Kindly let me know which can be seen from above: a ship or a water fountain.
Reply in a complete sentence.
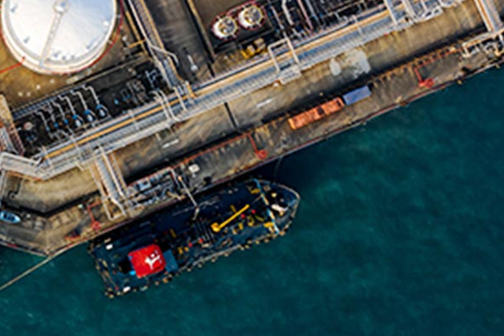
Looking from above, you can make out a ship.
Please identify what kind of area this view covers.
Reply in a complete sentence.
The picture captures an industrial area.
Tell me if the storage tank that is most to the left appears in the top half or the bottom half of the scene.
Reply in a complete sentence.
The storage tank that is most to the left sits in the top half of the picture.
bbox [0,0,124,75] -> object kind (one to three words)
storage tank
